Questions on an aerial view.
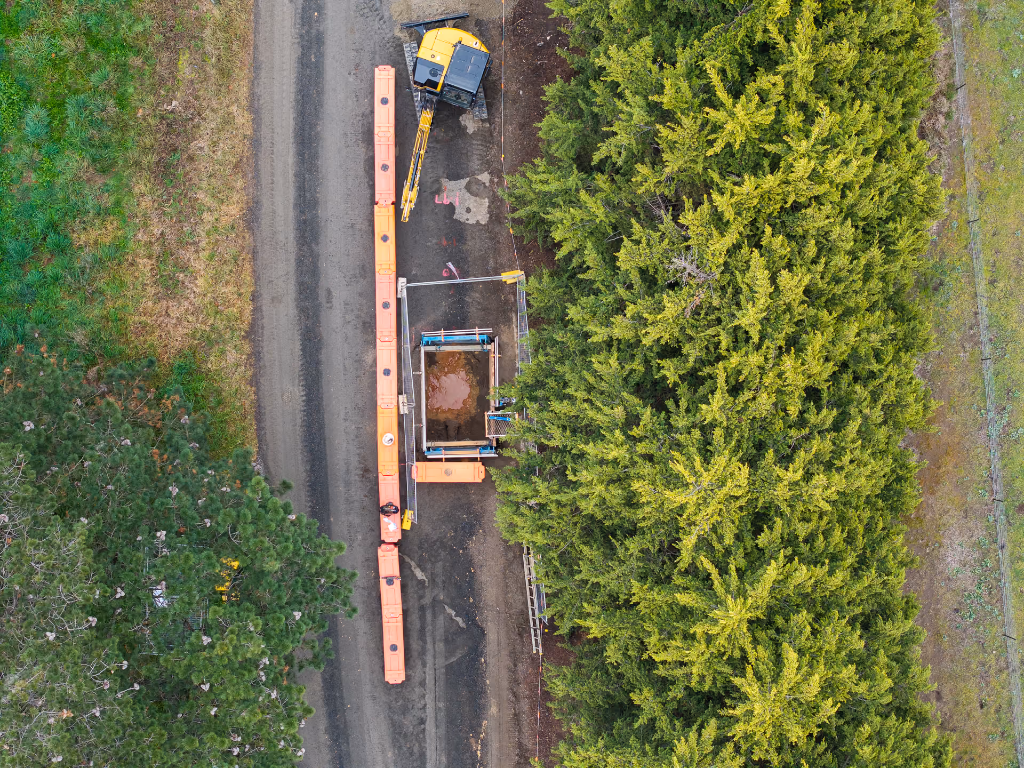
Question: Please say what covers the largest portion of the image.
trees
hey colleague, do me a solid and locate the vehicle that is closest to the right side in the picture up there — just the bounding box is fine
[399,10,494,222]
